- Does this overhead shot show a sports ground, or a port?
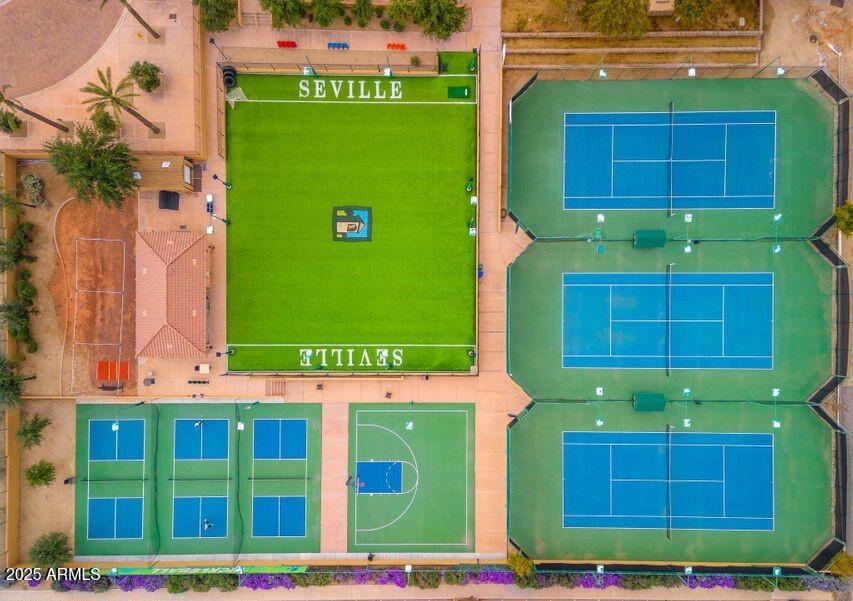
sports ground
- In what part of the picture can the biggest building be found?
left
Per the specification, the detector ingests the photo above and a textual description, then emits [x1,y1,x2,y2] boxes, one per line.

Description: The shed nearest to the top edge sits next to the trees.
[133,153,192,192]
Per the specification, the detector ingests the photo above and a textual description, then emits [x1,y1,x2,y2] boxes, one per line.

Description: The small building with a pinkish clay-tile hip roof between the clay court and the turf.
[135,230,211,358]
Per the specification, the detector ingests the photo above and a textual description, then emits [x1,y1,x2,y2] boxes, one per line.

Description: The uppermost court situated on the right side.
[513,78,834,240]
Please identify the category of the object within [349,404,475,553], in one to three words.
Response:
basketball court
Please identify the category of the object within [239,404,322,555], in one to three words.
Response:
sports court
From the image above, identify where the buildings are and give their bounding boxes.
[135,230,211,358]
[133,153,192,192]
